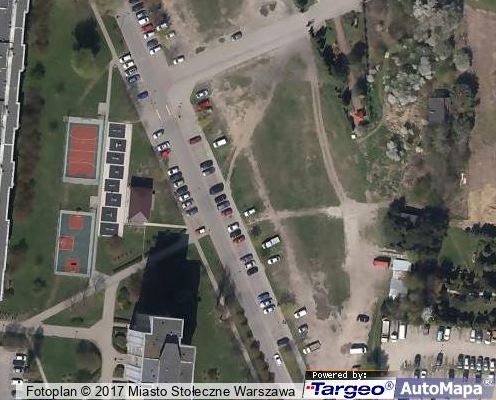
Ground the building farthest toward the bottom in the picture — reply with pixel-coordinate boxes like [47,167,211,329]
[123,311,196,400]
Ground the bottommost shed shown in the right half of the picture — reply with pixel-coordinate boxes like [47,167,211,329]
[388,279,407,300]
